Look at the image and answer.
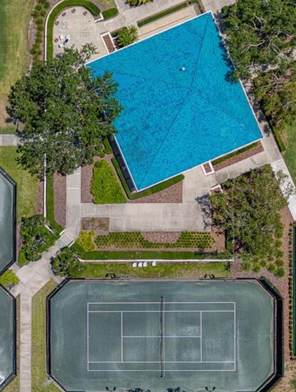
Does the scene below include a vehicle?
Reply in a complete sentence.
No, there appears to be no vehicle in this shot.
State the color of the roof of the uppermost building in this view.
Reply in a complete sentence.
From above, the roof of the uppermost building looks blue.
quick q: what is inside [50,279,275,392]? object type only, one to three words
tennis court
